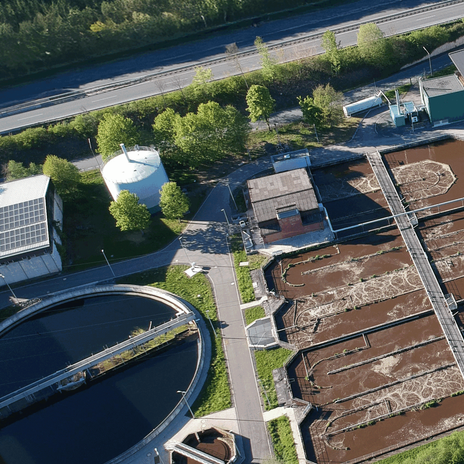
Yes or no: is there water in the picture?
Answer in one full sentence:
Yes, the picture does contain water.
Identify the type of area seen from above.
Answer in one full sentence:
The picture captures an industrial area.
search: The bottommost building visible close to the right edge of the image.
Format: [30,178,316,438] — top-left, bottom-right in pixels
[413,74,464,125]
